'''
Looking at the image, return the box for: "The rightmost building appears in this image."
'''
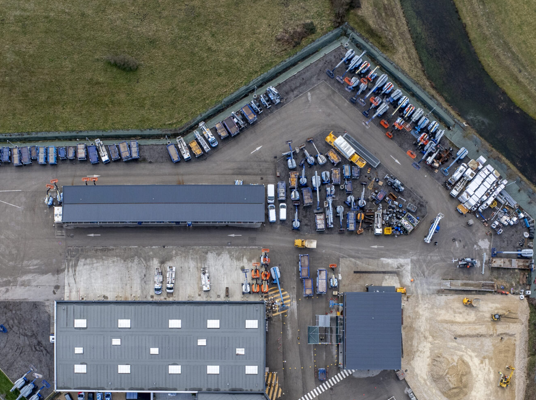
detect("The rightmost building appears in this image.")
[339,286,401,369]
